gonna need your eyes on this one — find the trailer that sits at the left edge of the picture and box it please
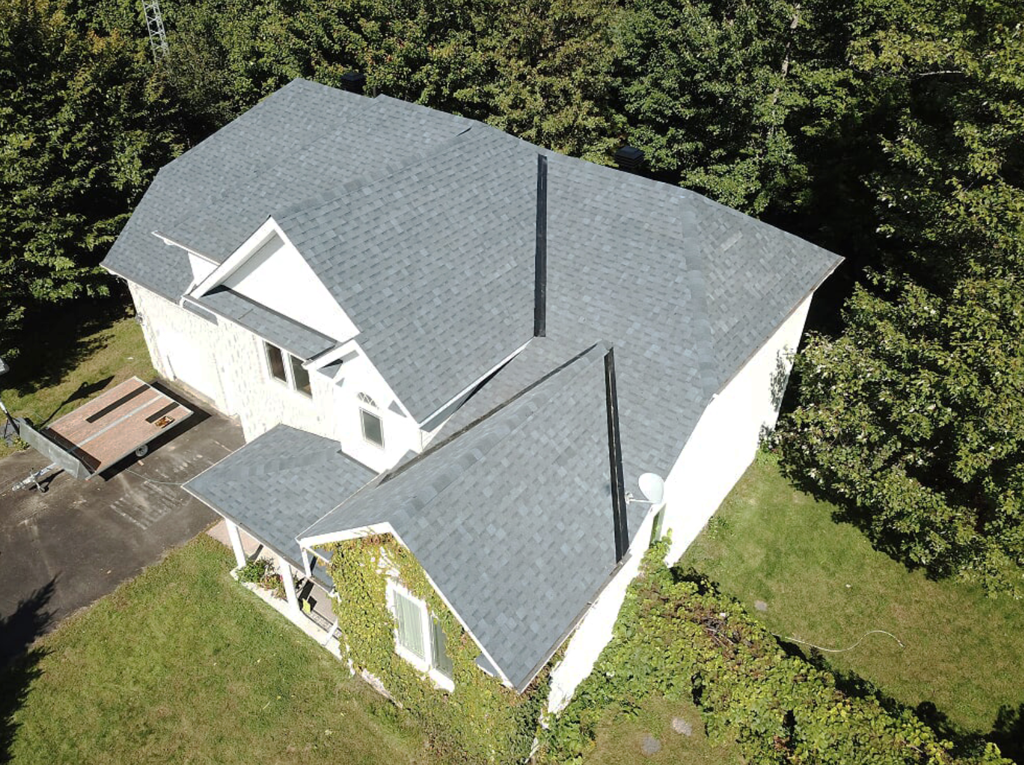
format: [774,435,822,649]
[4,376,195,493]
